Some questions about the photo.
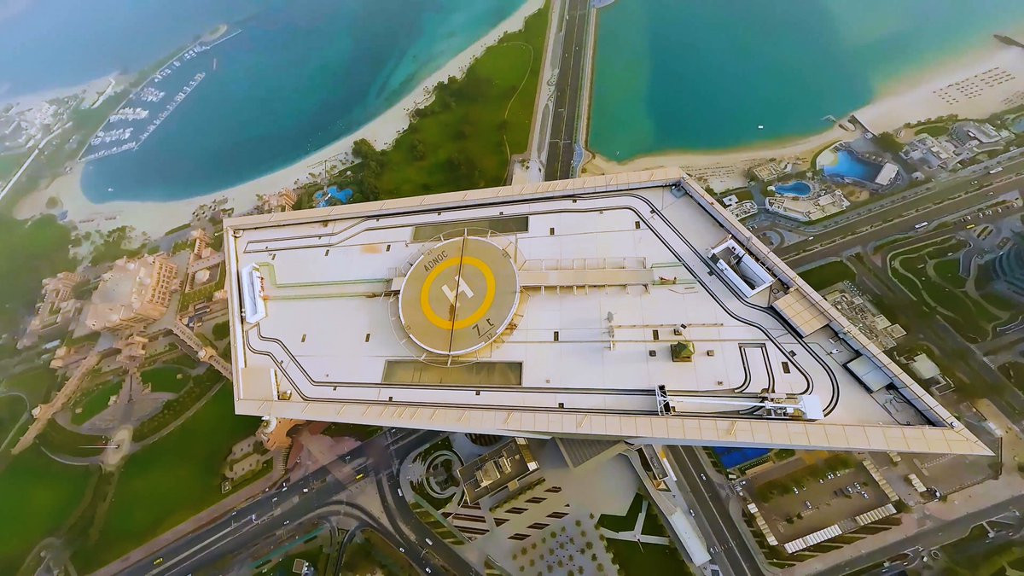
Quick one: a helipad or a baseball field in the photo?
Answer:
helipad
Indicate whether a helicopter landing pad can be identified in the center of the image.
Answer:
Yes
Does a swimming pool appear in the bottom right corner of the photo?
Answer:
Yes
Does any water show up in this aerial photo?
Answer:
Yes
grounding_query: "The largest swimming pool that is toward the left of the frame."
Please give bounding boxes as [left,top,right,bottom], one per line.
[314,183,353,208]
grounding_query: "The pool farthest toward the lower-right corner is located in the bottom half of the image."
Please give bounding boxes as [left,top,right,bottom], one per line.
[716,448,777,470]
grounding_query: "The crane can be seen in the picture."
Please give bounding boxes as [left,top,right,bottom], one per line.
[654,384,824,419]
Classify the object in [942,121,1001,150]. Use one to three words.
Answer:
house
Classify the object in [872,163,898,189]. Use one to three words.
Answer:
building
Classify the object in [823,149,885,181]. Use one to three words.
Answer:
swimming pool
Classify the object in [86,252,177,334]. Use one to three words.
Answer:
building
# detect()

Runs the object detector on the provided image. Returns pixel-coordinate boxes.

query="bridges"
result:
[517,266,654,293]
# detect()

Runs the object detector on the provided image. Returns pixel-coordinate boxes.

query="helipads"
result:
[382,231,654,369]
